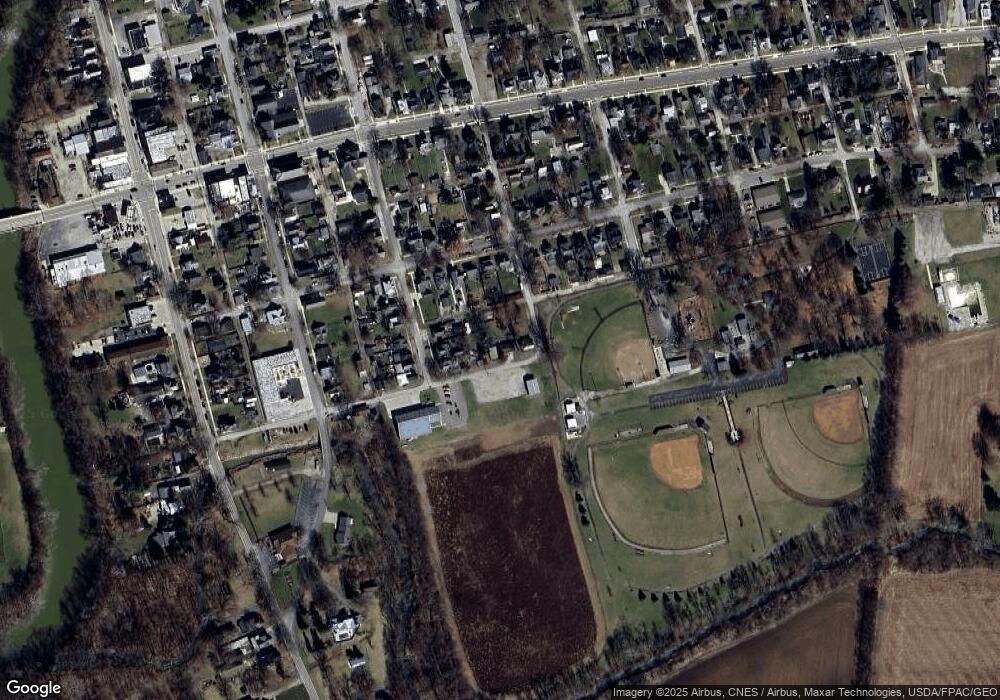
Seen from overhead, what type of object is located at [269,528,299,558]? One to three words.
house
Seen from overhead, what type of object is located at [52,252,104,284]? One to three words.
building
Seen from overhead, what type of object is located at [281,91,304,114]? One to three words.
house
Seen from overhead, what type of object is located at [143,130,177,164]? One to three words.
building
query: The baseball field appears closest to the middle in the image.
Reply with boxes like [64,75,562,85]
[549,280,661,398]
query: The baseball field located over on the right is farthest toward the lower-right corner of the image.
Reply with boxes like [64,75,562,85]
[756,384,873,507]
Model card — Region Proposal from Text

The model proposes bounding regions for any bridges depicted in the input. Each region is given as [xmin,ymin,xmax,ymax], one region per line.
[0,209,44,232]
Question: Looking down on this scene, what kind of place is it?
residential area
